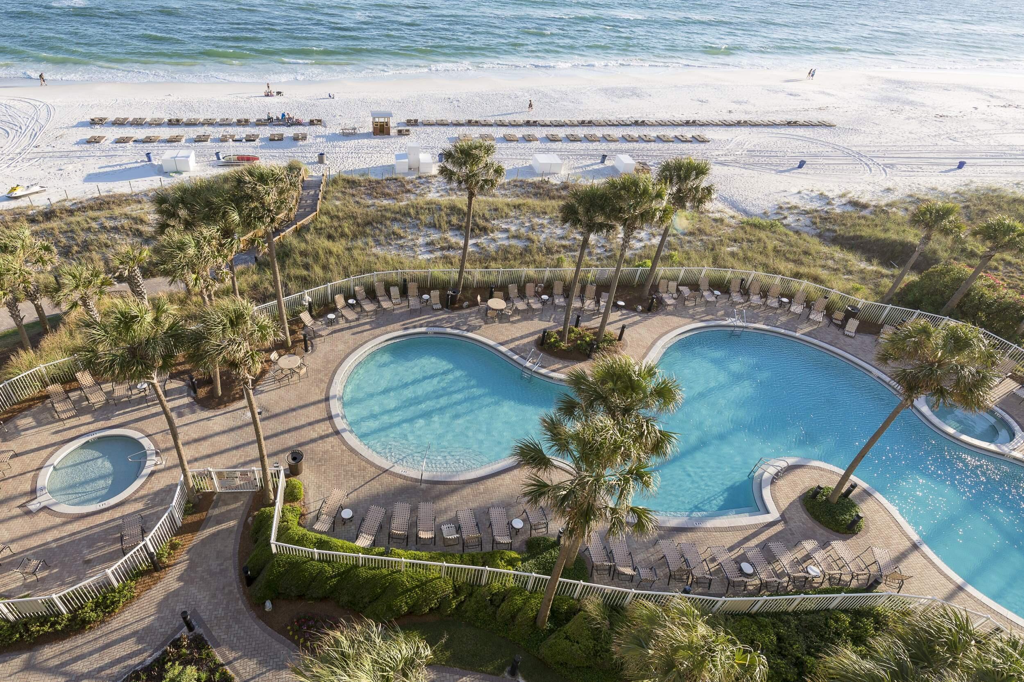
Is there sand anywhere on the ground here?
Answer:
Yes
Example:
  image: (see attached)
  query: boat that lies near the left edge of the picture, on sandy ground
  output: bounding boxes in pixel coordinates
[2,181,47,196]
